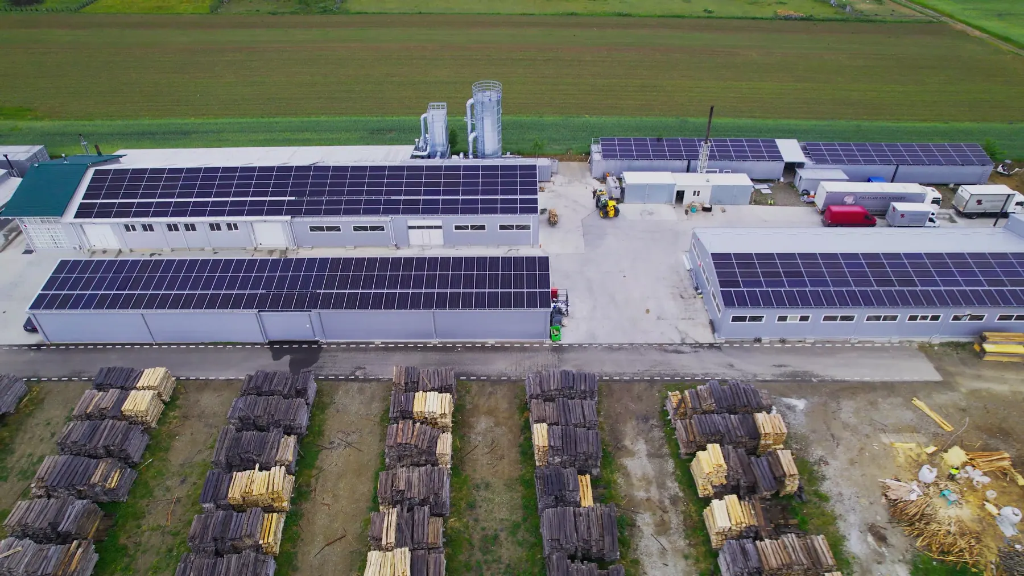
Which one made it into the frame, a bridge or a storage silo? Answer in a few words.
storage silo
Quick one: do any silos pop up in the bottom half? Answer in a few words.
No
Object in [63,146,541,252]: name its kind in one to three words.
building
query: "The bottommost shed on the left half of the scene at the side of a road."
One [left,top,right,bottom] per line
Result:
[26,255,552,344]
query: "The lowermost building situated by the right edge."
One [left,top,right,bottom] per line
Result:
[689,208,1024,345]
